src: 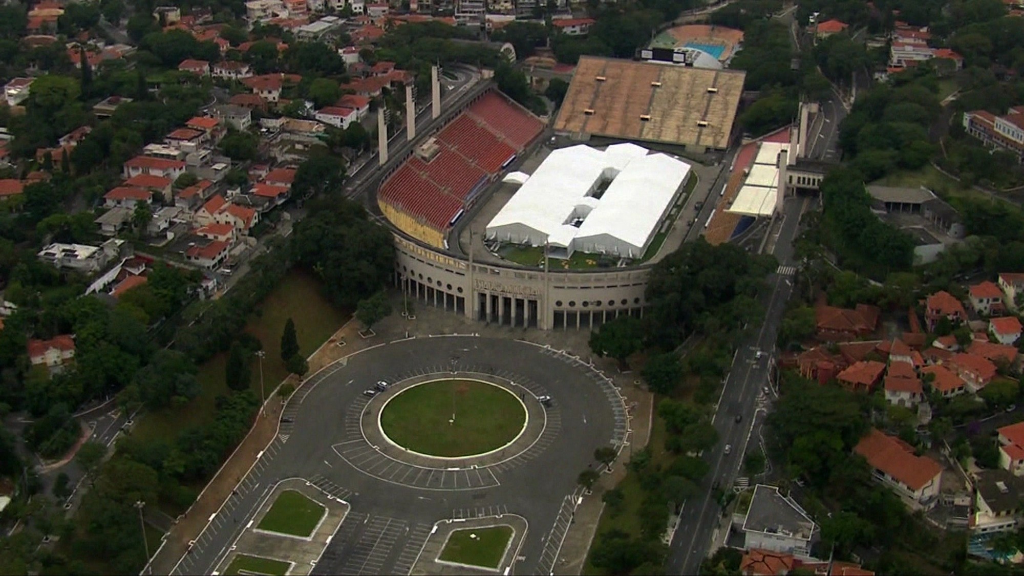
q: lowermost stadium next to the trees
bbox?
[378,198,734,332]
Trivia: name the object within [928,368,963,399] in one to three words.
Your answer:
house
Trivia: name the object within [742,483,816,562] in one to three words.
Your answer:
building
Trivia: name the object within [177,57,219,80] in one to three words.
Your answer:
house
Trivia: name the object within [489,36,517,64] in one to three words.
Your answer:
building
